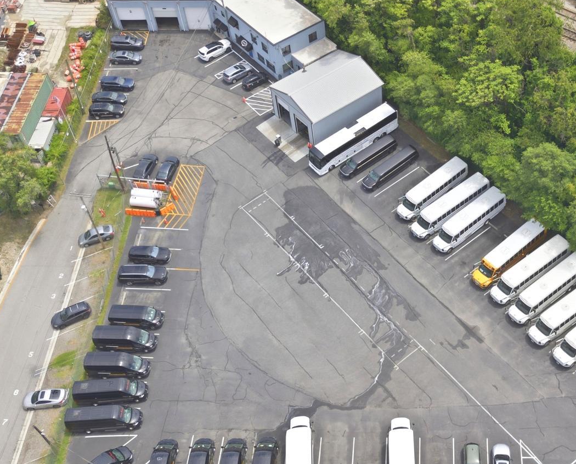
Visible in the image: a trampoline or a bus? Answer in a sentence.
It is a bus that can be seen here.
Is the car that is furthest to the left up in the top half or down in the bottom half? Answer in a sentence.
Seen from above, the car that is furthest to the left lies in the bottom half of the view.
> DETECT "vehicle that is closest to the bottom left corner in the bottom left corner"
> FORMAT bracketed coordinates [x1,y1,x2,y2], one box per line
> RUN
[23,387,70,412]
